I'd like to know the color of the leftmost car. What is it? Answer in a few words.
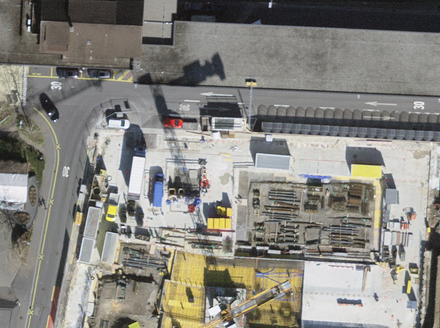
black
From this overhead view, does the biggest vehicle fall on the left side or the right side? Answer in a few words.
left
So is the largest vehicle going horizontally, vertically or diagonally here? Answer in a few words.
vertically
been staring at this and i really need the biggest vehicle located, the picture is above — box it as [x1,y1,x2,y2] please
[126,145,147,202]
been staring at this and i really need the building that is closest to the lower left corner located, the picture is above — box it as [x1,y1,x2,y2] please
[75,236,94,264]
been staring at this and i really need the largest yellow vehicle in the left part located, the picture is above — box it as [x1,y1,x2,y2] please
[104,204,118,223]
